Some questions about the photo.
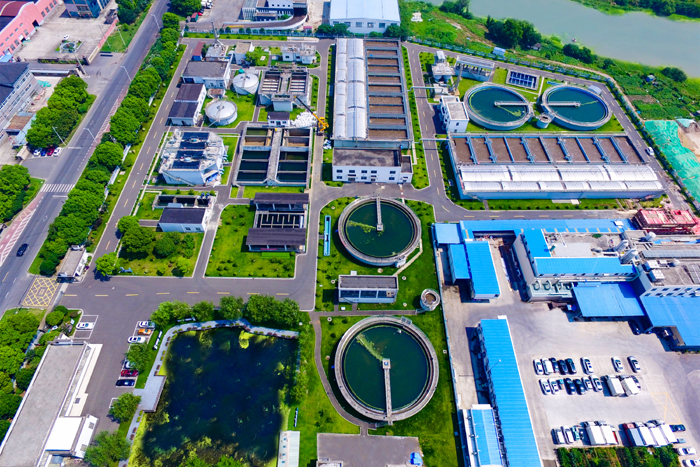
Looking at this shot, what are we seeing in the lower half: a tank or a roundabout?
tank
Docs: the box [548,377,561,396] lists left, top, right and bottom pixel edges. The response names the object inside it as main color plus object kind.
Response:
white vehicle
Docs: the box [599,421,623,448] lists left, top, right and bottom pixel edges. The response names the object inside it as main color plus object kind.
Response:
white truck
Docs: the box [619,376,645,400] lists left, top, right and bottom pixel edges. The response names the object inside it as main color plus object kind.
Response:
white truck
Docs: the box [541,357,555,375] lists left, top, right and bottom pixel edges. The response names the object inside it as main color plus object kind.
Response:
white vehicle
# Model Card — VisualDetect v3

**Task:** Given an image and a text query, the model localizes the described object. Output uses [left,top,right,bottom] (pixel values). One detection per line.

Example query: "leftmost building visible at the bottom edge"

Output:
[0,345,108,467]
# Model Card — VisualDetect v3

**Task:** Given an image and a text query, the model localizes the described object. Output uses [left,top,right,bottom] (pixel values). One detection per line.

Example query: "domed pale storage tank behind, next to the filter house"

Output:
[232,68,260,100]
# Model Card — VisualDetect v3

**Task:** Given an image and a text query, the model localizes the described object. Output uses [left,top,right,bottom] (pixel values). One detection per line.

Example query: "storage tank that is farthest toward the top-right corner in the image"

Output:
[537,79,615,133]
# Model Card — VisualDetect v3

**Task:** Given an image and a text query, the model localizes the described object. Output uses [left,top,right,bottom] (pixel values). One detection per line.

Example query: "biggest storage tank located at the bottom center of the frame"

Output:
[334,315,440,423]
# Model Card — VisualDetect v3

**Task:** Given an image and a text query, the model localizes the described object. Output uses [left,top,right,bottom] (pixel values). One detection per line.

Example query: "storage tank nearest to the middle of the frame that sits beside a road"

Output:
[338,193,422,268]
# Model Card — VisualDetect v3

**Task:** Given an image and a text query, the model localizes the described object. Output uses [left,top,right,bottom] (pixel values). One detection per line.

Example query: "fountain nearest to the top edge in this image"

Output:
[50,39,88,56]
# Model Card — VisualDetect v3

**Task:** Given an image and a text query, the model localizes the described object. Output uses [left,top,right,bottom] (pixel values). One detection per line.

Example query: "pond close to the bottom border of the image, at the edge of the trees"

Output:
[139,325,300,467]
